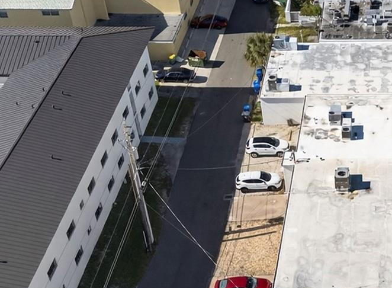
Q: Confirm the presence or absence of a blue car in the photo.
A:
No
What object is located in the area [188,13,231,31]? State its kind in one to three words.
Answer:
car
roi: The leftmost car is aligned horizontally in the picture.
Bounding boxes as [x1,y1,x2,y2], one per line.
[154,66,200,85]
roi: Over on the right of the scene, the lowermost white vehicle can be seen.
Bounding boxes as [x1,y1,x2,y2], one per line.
[231,167,277,194]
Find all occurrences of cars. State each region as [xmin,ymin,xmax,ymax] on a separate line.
[188,13,231,31]
[154,66,200,85]
[212,273,275,288]
[231,167,277,194]
[242,134,294,158]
